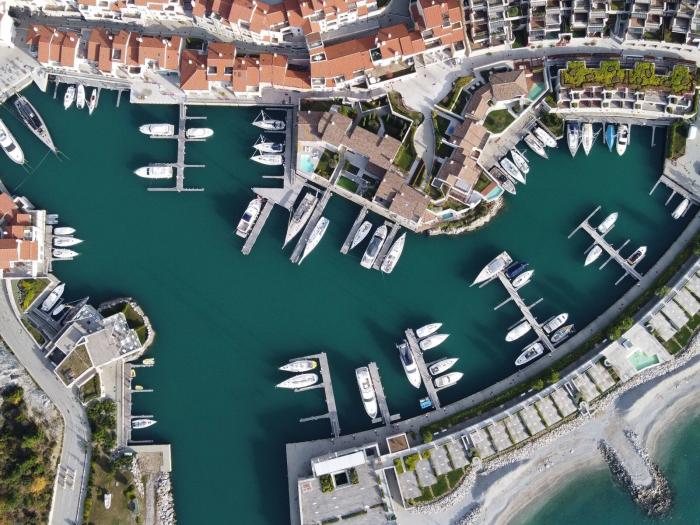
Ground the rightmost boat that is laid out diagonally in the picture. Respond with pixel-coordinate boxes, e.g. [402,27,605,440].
[673,196,690,220]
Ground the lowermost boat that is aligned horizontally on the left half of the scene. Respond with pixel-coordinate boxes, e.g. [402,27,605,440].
[131,418,159,432]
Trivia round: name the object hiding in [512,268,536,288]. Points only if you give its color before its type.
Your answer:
white boat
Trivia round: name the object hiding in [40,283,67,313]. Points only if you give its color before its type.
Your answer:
white boat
